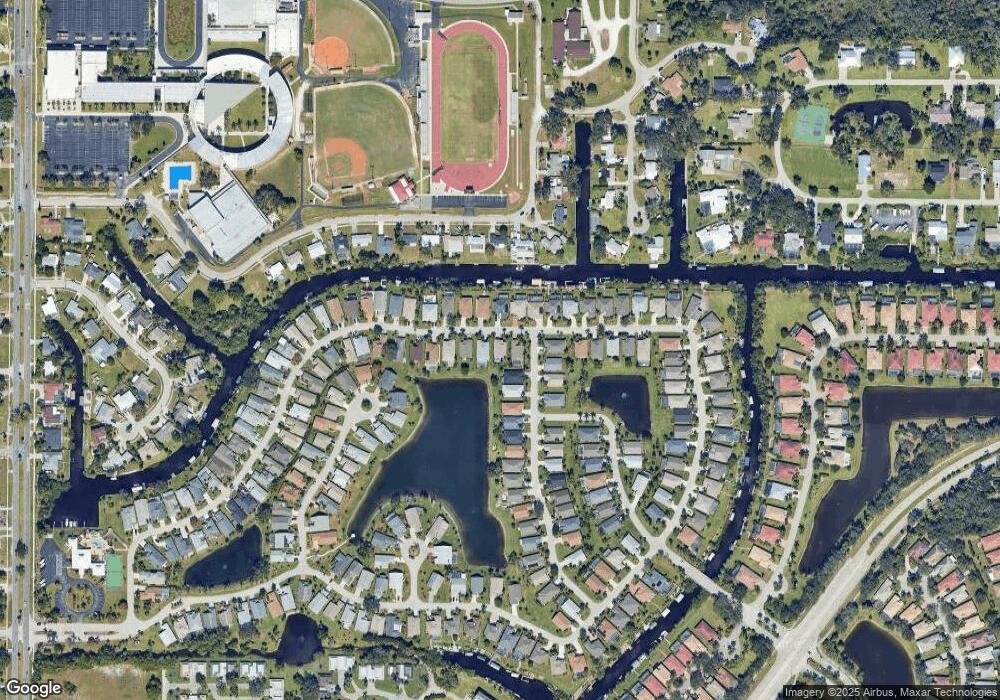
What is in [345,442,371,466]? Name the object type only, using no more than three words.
house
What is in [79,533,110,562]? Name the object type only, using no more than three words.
swimming pool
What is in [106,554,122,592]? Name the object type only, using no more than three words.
tennis court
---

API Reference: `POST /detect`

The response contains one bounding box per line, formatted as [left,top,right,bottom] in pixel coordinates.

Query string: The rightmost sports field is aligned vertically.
[441,31,497,162]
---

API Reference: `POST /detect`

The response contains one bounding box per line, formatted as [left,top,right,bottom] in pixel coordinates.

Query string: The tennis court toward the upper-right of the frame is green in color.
[795,106,828,141]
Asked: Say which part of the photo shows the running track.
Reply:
top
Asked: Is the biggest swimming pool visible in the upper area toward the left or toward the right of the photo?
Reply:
left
